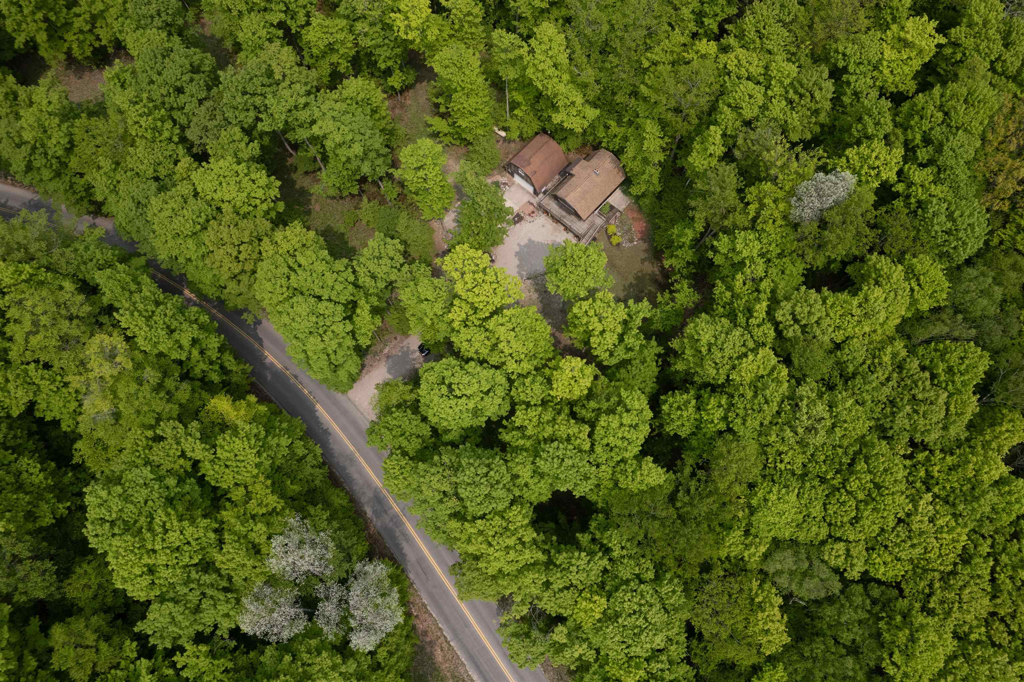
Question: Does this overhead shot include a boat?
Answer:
No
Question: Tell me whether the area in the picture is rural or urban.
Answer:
rural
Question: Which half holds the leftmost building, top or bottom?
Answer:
top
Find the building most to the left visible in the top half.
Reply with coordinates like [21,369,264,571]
[505,132,569,198]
